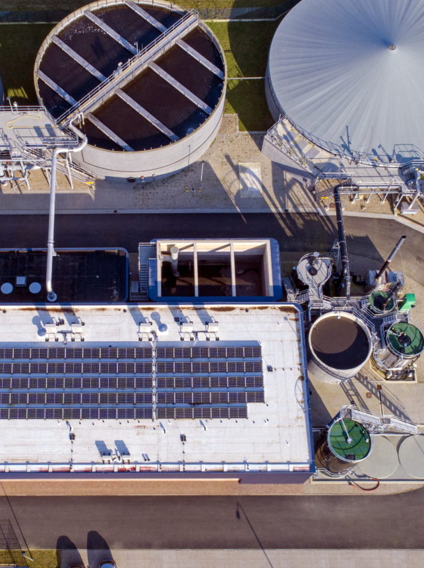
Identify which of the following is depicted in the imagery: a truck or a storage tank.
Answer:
storage tank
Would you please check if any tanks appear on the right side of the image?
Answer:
Yes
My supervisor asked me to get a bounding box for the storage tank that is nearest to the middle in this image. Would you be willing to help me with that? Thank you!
[294,246,334,300]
